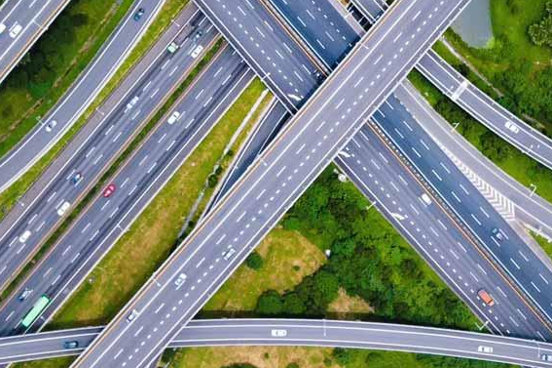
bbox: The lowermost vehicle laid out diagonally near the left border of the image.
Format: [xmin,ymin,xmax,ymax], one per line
[21,296,49,328]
